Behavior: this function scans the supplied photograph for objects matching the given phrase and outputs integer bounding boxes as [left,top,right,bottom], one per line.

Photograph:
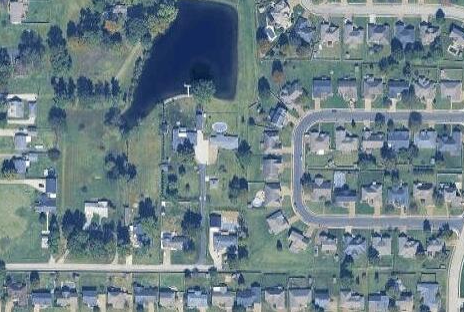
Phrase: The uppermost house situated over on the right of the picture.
[267,0,296,26]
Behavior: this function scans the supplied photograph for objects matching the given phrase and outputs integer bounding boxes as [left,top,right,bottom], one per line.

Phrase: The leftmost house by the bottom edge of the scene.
[8,281,28,305]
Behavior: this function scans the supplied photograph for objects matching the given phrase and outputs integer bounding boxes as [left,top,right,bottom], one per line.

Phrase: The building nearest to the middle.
[210,135,238,149]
